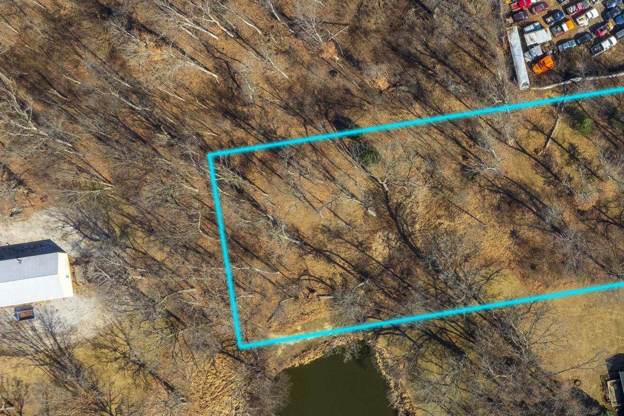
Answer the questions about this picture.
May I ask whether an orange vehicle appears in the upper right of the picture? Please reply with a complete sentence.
Yes, in the upper right of the picture there is an orange vehicle.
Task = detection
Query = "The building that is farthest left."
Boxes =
[0,252,71,307]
